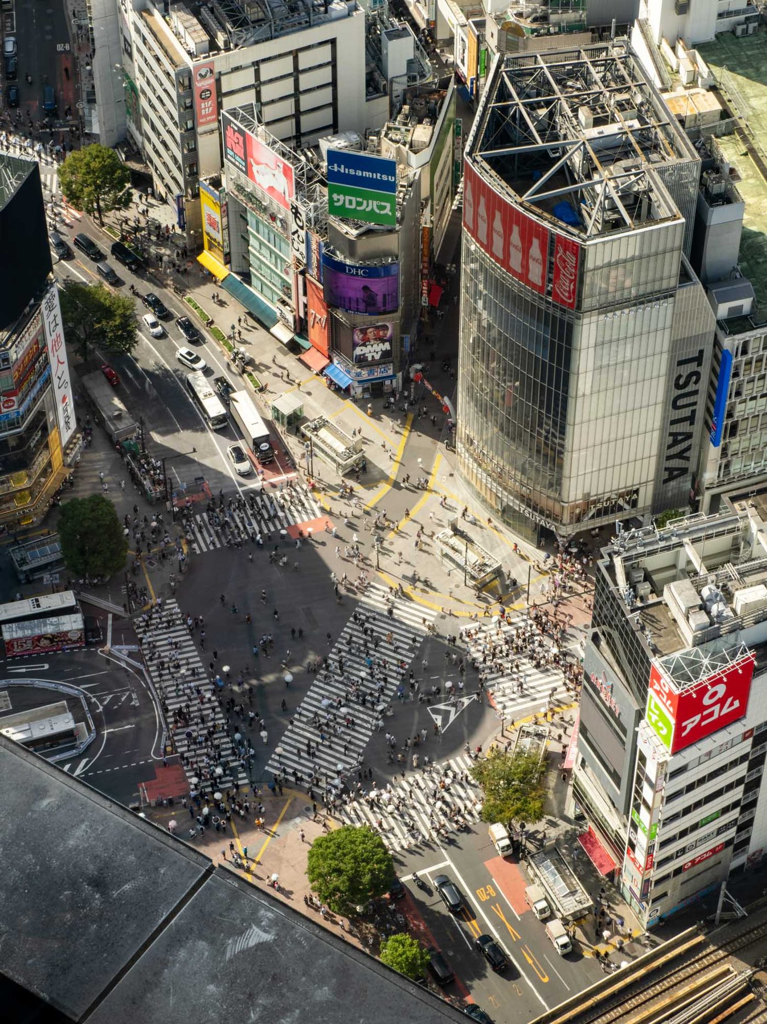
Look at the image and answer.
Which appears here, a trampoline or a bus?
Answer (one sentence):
This aerial view contains a bus.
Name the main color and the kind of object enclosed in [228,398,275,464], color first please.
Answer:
white truck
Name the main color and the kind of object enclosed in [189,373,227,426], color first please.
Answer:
white bus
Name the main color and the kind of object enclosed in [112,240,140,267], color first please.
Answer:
black car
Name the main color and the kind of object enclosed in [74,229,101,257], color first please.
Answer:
black car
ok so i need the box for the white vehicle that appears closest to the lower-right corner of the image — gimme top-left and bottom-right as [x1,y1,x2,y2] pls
[548,915,576,951]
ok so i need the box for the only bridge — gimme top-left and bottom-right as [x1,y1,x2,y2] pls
[549,894,767,1024]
